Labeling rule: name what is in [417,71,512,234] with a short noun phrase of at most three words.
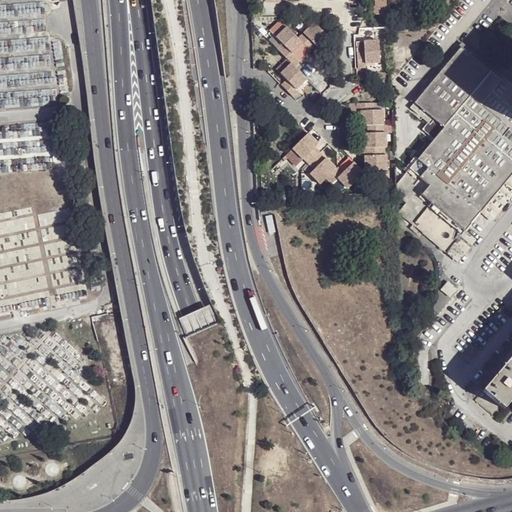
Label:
building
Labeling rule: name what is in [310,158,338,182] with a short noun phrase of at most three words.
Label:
house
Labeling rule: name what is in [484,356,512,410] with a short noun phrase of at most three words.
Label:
building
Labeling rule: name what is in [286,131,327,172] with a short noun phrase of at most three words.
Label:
house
